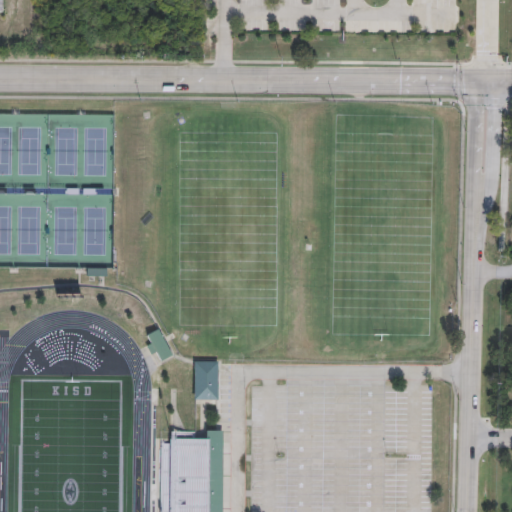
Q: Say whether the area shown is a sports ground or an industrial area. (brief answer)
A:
sports ground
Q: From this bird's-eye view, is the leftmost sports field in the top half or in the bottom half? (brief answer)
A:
bottom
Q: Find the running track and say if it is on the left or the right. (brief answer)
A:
left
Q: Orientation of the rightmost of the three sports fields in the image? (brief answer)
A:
from top to bottom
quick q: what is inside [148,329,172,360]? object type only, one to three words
building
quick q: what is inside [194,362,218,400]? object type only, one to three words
building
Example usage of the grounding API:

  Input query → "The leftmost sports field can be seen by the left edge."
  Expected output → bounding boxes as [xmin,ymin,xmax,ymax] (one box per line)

[8,376,133,512]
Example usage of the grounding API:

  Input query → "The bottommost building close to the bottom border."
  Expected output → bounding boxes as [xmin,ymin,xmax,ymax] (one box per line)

[160,432,224,512]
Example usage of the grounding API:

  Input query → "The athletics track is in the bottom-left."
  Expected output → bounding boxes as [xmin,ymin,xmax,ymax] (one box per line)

[0,310,152,512]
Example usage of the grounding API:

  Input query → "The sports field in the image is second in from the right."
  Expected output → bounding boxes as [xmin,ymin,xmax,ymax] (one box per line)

[177,131,280,328]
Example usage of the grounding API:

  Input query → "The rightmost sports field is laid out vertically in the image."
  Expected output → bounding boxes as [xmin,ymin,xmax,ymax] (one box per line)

[330,112,434,338]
